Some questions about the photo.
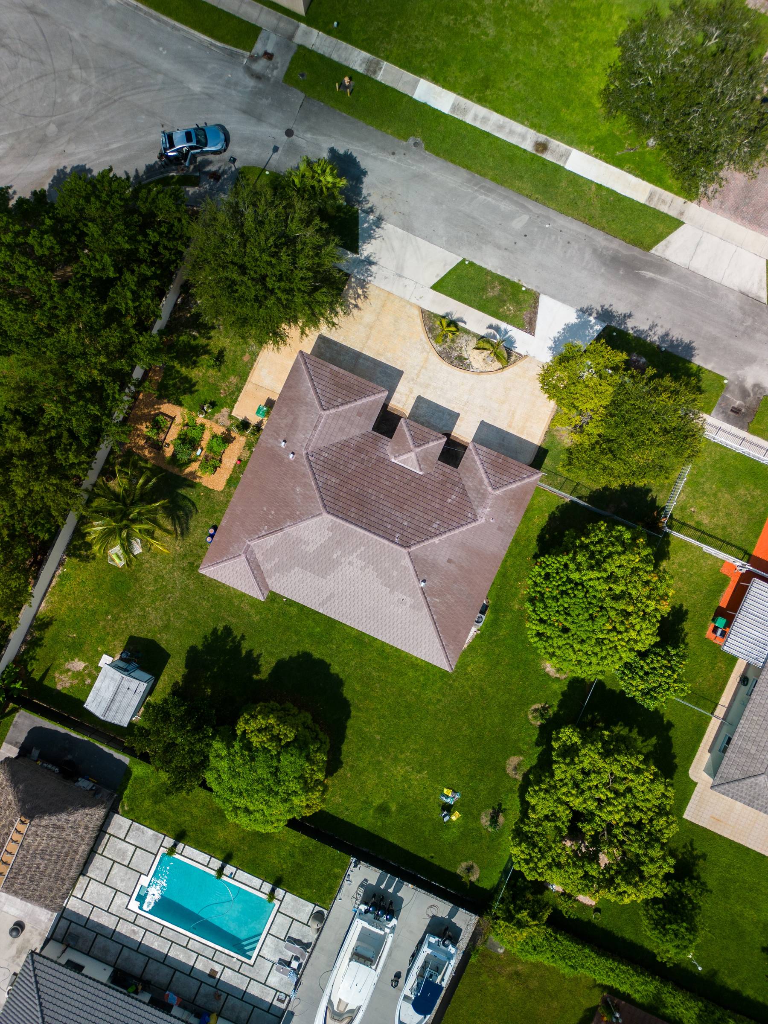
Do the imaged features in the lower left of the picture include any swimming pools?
Yes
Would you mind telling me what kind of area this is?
residential area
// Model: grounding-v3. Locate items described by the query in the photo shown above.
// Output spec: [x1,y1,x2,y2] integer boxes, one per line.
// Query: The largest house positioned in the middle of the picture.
[198,349,543,674]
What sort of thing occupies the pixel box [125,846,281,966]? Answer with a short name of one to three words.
swimming pool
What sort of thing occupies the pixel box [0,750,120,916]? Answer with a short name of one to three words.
shed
